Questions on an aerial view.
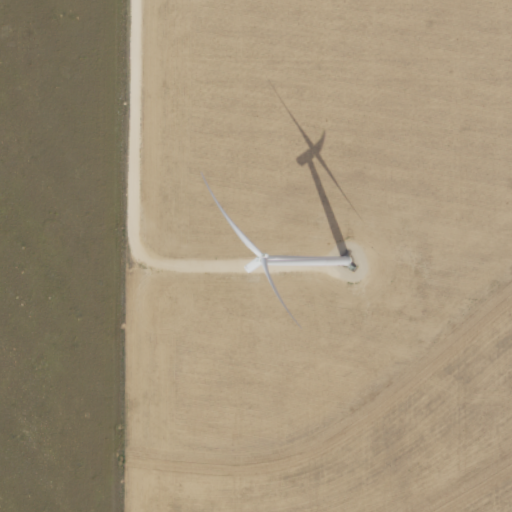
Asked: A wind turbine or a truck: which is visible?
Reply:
wind turbine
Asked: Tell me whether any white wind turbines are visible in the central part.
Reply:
Yes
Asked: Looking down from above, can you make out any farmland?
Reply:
Yes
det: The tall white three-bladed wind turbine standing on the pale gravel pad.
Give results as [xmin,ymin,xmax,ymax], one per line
[202,180,354,332]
